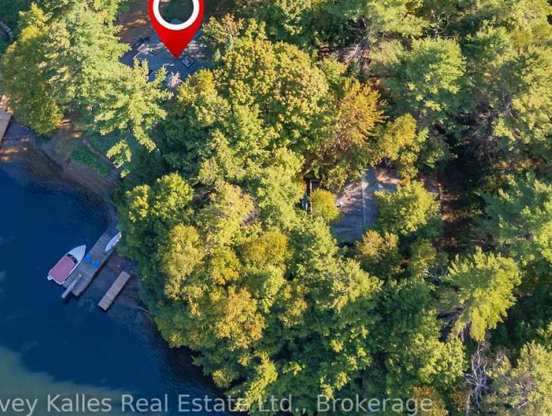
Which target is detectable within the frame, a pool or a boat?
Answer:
boat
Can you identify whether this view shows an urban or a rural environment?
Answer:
rural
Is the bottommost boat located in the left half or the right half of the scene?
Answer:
left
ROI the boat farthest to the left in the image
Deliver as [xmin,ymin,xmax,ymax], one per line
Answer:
[46,243,89,284]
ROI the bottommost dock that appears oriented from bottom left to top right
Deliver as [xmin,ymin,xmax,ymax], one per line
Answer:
[98,272,130,311]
